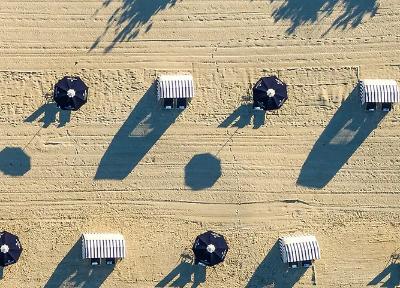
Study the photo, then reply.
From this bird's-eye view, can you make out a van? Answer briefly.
No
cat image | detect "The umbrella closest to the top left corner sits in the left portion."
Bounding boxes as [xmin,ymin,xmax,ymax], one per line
[54,76,88,110]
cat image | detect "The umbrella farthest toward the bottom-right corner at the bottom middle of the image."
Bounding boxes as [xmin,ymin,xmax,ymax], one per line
[192,231,228,267]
